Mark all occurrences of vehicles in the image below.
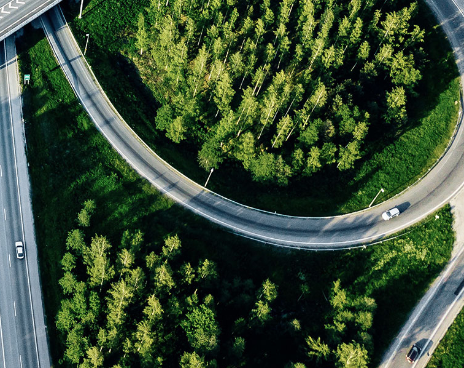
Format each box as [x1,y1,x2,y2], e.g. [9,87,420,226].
[406,341,424,362]
[14,240,24,260]
[381,205,402,219]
